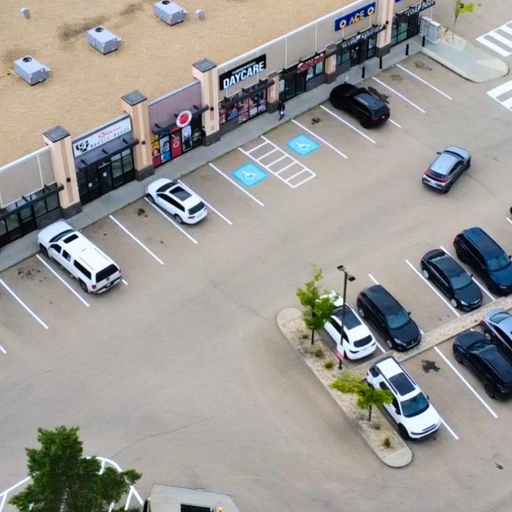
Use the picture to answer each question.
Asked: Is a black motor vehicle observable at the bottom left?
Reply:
No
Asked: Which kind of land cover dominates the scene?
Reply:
paved ground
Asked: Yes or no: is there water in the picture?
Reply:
No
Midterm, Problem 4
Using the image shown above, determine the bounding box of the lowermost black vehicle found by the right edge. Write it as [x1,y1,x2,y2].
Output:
[452,334,512,401]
